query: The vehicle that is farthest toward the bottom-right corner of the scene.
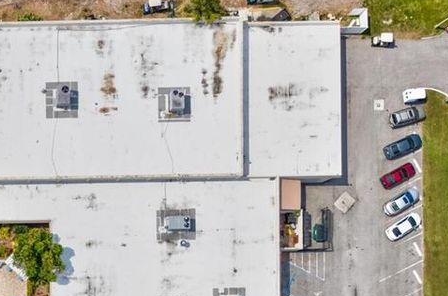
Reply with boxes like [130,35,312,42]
[383,213,423,242]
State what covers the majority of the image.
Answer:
buildings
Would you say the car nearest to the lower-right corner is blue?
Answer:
No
